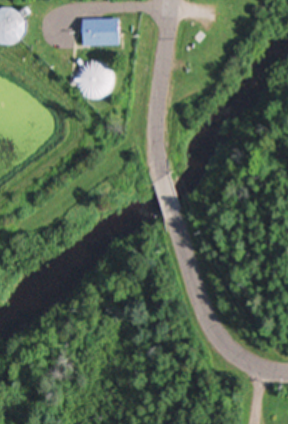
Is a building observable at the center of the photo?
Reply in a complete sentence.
No, the scene shows no building at the center of the photo.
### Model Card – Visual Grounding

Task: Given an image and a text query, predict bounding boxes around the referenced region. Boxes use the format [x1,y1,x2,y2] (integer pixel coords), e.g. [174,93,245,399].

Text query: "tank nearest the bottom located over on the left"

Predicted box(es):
[72,60,117,100]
